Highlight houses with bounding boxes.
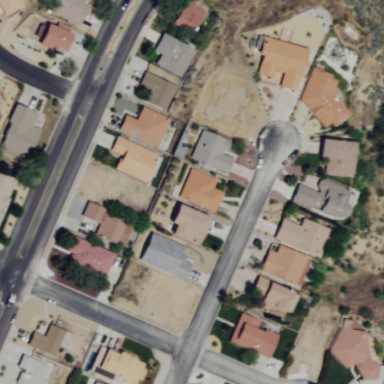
[232,312,281,358]
[120,106,172,147]
[29,324,67,356]
[324,138,360,178]
[275,218,330,258]
[262,245,314,287]
[0,0,24,17]
[292,178,360,219]
[301,66,352,128]
[258,28,310,91]
[3,104,46,154]
[68,237,116,274]
[0,174,18,223]
[54,0,88,24]
[112,136,158,183]
[92,346,147,384]
[192,130,234,174]
[156,33,197,77]
[175,3,206,28]
[42,23,75,51]
[17,354,54,384]
[168,203,215,246]
[331,320,382,380]
[180,168,225,213]
[256,276,300,318]
[84,201,132,246]
[140,232,193,279]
